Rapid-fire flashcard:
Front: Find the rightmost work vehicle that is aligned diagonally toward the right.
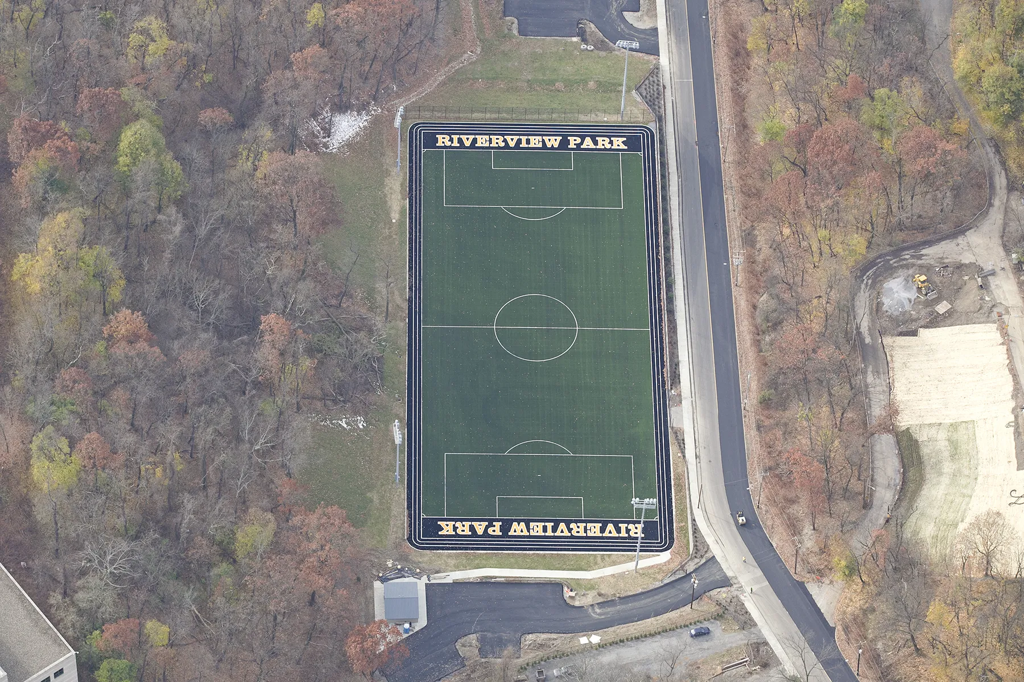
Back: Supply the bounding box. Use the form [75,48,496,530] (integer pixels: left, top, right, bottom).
[914,277,937,304]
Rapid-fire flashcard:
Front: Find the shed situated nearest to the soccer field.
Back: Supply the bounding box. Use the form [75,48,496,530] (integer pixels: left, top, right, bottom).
[384,581,418,623]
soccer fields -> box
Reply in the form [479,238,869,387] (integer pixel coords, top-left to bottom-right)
[422,131,659,541]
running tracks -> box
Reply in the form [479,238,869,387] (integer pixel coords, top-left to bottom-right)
[407,120,673,554]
